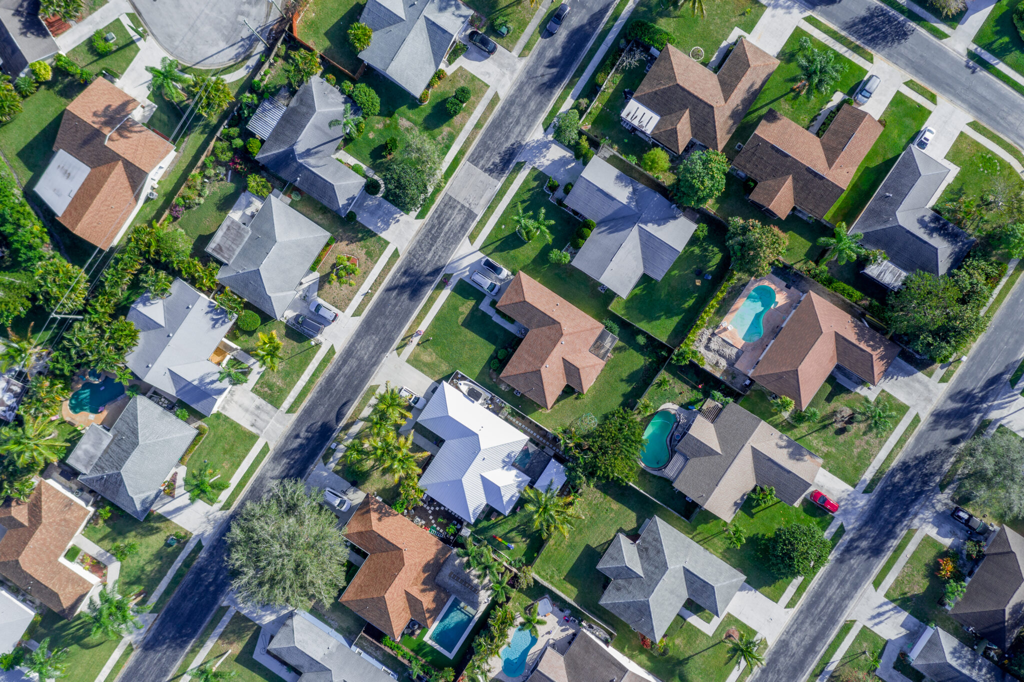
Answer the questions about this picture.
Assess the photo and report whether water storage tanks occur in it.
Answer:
No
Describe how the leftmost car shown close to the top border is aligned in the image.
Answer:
diagonally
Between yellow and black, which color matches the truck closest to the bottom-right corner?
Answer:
black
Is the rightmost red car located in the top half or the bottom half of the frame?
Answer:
bottom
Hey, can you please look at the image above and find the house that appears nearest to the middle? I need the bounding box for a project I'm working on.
[496,271,606,410]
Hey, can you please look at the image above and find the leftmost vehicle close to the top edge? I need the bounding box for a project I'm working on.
[467,29,499,57]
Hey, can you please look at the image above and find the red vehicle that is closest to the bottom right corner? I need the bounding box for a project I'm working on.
[808,487,840,511]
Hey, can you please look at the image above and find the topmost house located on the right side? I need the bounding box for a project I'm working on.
[618,38,780,154]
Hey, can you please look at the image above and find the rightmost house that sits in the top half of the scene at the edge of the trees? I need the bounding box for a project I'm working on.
[847,144,976,292]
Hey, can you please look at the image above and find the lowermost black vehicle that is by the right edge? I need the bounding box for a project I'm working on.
[948,503,990,537]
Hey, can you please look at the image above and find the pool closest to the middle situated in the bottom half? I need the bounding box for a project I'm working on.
[513,440,534,471]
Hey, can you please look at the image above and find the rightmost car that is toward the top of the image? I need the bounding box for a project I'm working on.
[912,123,937,153]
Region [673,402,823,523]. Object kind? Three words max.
house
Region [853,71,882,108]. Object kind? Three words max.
car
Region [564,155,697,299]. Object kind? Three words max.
house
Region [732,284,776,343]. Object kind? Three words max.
swimming pool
